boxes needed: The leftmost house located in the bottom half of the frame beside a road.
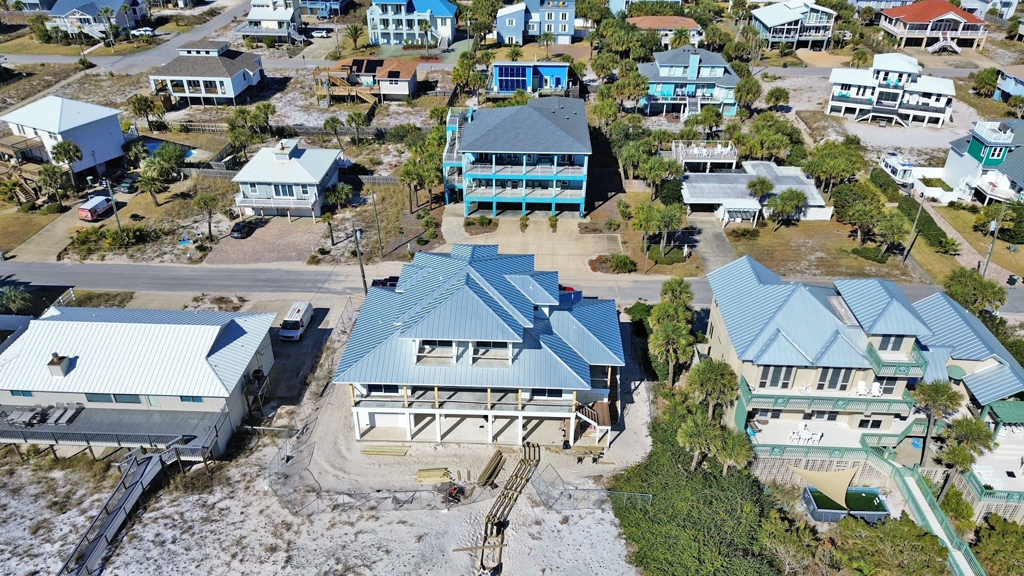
[0,298,279,480]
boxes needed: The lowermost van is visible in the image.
[277,292,321,337]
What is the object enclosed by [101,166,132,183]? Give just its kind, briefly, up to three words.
car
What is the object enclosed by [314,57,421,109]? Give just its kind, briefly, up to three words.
house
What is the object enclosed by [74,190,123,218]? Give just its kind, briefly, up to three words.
van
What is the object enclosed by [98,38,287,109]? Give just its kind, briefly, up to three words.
house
